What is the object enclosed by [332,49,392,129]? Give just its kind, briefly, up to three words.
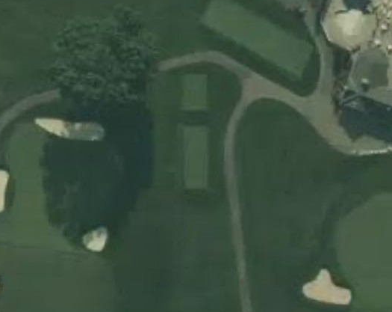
building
